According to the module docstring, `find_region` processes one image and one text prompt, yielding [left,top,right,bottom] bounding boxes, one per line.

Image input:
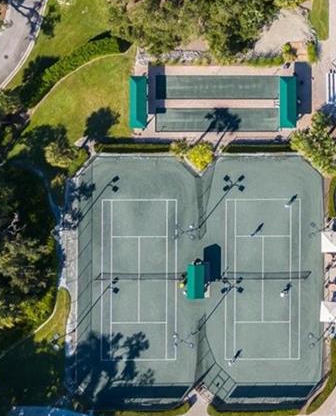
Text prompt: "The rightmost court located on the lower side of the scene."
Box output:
[199,156,323,403]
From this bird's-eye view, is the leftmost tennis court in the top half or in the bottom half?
bottom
